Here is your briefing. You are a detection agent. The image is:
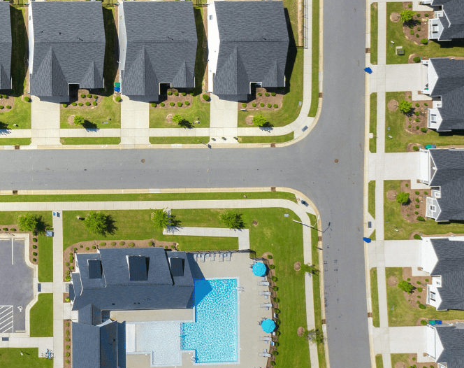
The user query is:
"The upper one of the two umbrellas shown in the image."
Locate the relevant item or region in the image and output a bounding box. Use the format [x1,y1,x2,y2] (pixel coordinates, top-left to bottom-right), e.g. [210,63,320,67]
[251,261,267,276]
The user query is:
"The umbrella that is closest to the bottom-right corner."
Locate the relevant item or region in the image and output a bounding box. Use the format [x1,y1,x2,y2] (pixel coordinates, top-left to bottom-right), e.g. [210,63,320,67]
[260,318,276,332]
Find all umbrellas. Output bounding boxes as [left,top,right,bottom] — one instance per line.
[251,261,267,276]
[260,318,276,332]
